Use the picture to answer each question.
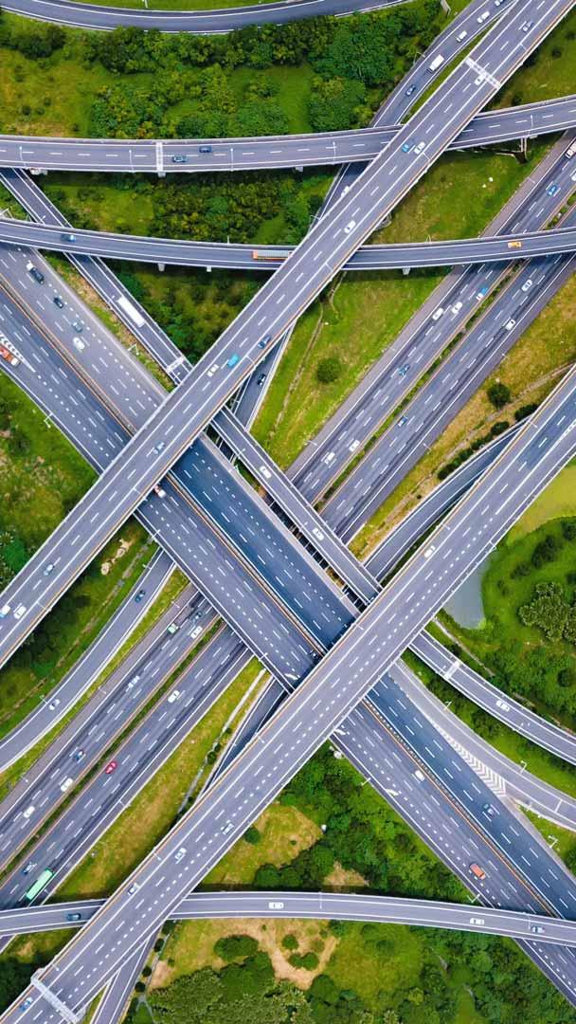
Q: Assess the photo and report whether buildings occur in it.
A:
No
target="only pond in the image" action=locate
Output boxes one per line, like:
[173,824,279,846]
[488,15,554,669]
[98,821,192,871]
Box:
[440,552,490,629]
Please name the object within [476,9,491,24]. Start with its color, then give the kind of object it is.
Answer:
white vehicle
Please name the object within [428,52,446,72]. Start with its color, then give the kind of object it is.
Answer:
white vehicle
